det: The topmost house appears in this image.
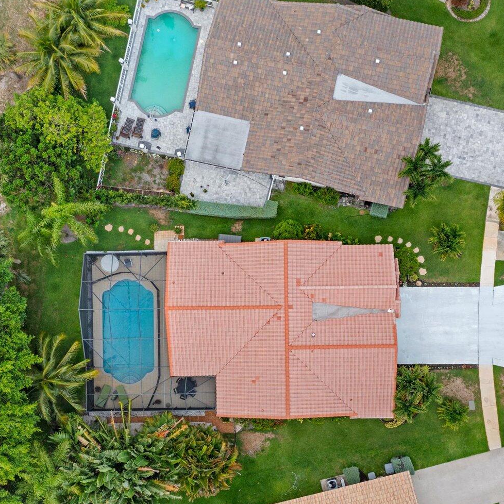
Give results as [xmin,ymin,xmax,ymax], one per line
[184,0,445,209]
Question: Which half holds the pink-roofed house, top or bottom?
bottom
